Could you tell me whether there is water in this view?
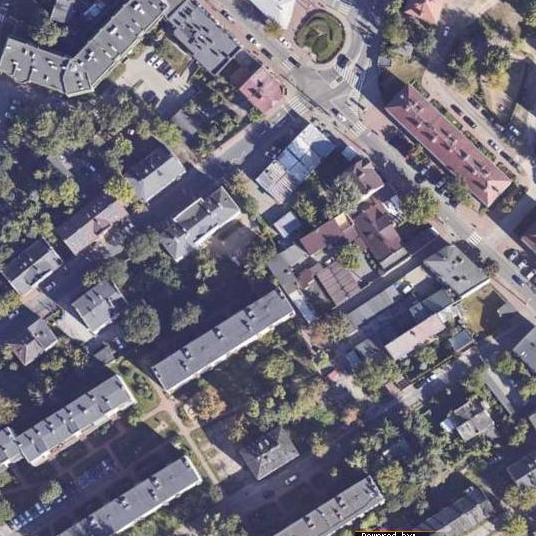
No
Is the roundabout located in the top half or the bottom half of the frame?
top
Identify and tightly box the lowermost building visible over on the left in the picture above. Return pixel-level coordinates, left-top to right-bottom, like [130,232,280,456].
[59,456,204,536]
